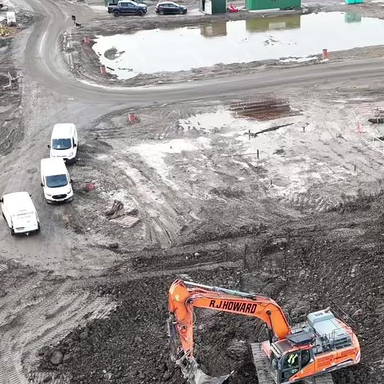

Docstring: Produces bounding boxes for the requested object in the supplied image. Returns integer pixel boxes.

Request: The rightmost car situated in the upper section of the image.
[156,1,187,15]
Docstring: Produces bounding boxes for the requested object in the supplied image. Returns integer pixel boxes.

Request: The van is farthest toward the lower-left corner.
[3,195,42,237]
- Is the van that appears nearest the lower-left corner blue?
No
